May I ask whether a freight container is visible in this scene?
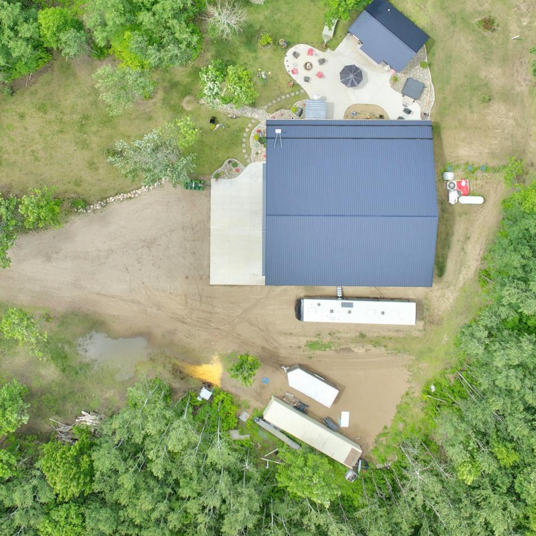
Yes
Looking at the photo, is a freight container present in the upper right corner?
No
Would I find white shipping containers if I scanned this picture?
Yes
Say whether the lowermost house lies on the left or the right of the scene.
right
